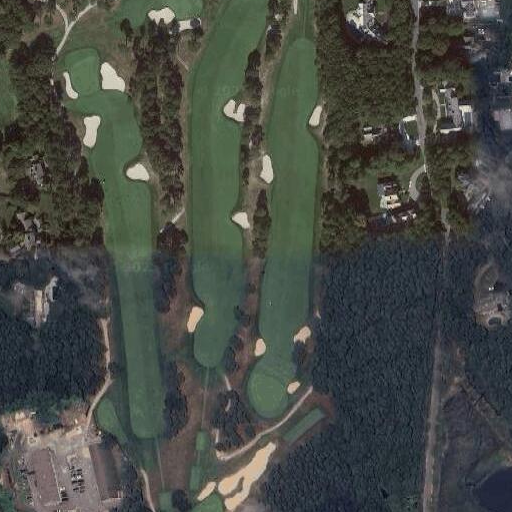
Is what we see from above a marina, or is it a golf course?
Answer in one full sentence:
What you see here is a golf course.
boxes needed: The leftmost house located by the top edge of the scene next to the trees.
[358,0,384,39]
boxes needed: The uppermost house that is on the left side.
[25,158,48,185]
